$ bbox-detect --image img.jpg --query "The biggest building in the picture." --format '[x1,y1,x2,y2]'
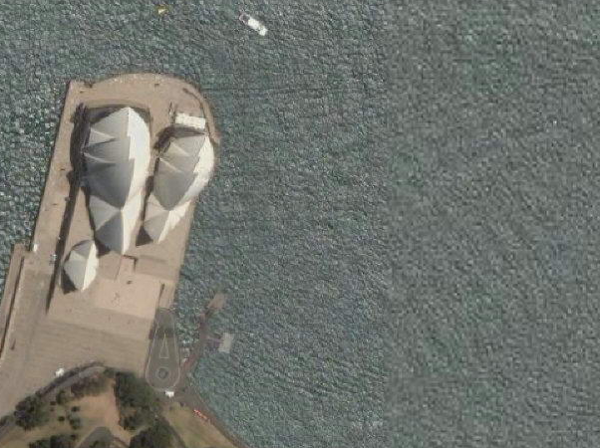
[46,101,216,341]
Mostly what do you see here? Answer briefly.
water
